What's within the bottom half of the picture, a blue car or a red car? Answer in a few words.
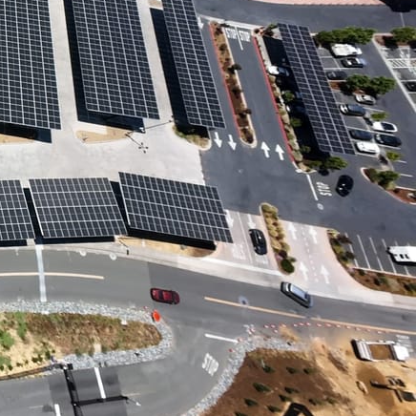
red car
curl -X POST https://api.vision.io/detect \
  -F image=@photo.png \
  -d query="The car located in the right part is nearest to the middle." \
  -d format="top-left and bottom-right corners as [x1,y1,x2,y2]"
[247,229,271,256]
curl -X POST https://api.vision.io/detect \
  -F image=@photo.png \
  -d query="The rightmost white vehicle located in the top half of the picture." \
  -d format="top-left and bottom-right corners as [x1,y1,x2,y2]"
[370,120,399,134]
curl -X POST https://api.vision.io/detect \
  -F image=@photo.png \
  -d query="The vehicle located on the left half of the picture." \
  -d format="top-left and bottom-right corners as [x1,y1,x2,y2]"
[149,287,179,305]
